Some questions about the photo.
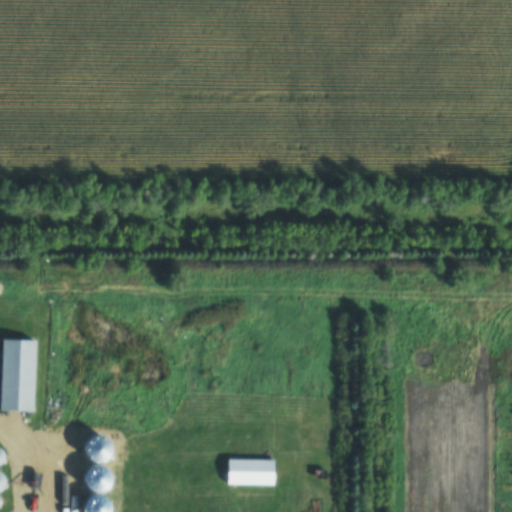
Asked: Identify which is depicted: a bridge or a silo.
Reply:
silo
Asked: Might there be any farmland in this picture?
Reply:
Yes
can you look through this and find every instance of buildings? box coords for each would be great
[0,340,36,410]
[227,459,274,486]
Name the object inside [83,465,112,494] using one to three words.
silo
